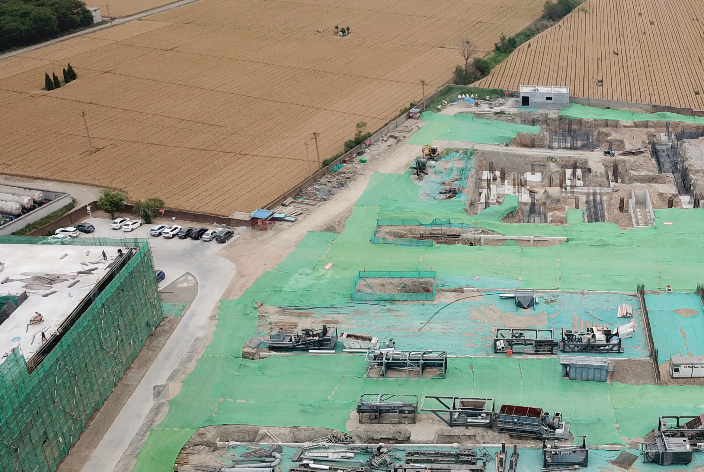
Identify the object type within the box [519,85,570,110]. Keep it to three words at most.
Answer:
house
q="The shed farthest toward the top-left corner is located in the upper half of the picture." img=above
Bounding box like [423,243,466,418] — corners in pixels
[83,5,104,26]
